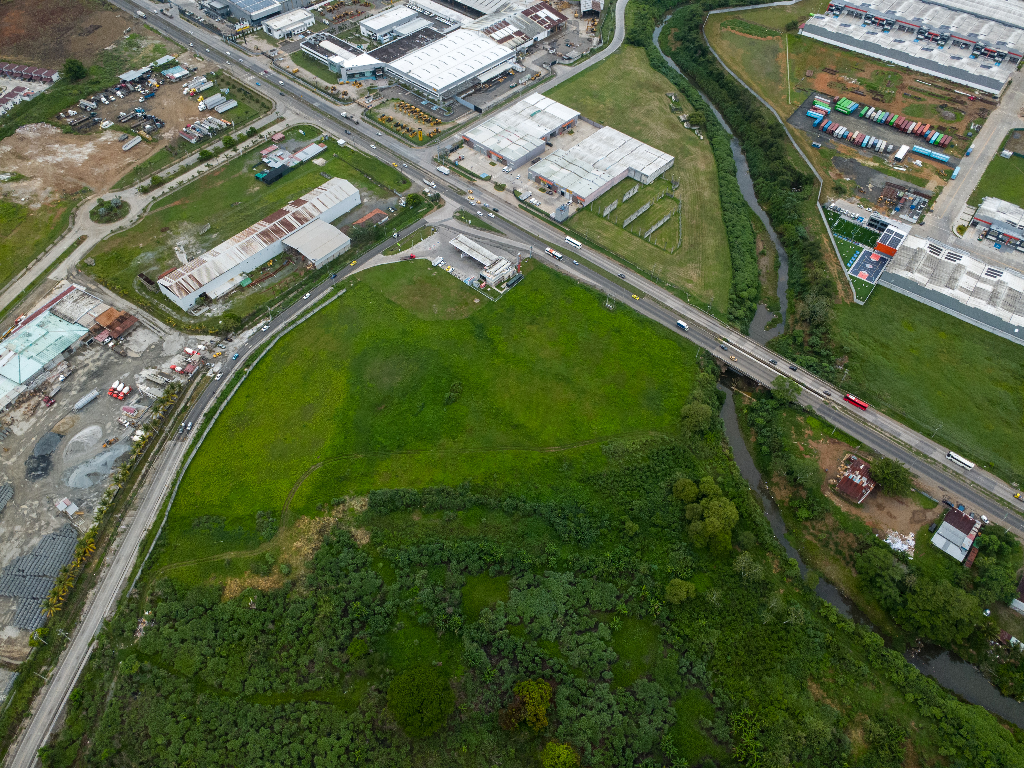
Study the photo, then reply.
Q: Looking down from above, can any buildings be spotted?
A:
Yes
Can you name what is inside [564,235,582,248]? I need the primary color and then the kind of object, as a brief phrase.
white vehicle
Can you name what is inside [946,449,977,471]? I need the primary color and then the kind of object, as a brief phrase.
white bus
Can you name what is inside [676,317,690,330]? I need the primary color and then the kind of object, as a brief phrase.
white vehicle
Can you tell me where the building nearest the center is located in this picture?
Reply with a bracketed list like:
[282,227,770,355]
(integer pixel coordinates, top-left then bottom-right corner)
[480,256,517,290]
